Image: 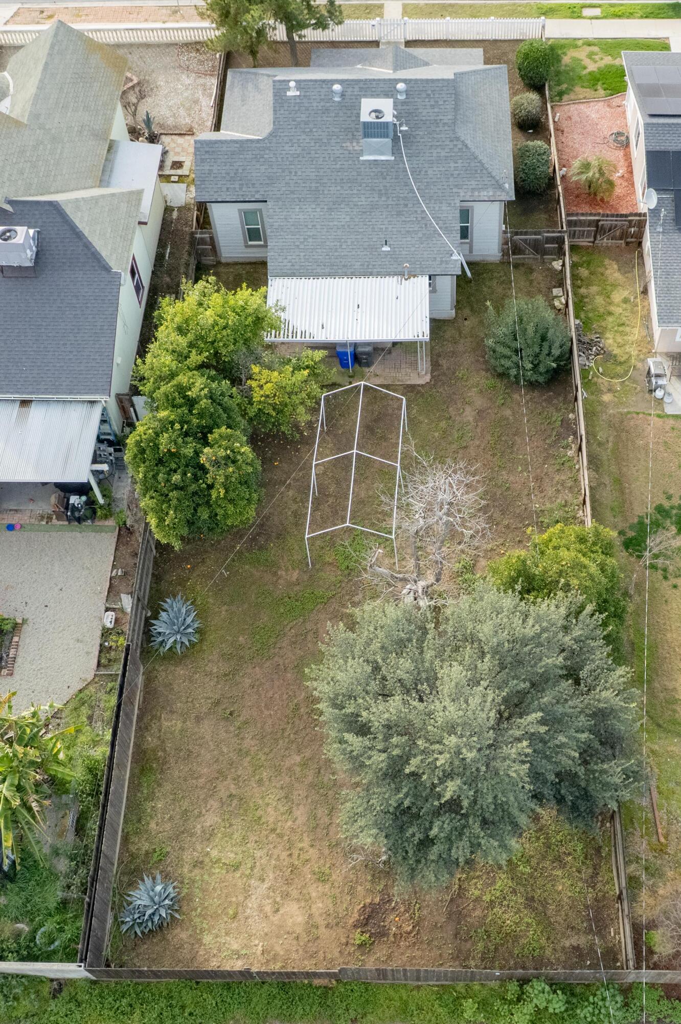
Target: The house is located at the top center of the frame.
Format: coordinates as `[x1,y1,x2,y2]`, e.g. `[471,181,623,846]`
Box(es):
[192,47,517,319]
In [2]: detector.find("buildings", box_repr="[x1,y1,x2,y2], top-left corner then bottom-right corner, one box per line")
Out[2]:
[192,47,517,319]
[617,51,681,353]
[0,19,165,431]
